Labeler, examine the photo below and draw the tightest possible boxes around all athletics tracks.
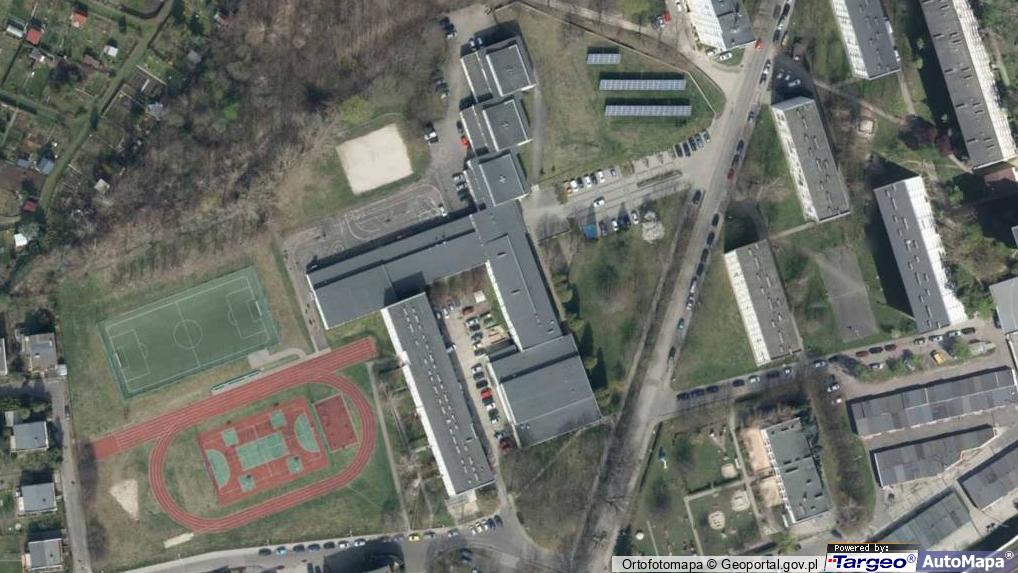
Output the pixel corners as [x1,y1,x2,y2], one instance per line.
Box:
[91,336,378,532]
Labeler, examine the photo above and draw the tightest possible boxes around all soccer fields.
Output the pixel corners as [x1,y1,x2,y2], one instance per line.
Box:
[97,267,279,399]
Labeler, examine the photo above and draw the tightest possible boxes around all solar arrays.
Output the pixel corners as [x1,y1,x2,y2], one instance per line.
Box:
[605,104,691,115]
[588,54,619,65]
[599,80,685,91]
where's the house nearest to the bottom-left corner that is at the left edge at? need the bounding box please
[23,537,63,573]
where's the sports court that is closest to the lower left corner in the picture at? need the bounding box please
[199,397,328,505]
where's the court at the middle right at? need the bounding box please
[816,246,878,341]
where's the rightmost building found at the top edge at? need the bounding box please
[904,0,1017,171]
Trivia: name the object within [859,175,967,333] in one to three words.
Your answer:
building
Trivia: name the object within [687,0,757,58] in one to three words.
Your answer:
building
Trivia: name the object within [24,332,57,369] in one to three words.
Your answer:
house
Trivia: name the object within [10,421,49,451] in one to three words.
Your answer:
house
